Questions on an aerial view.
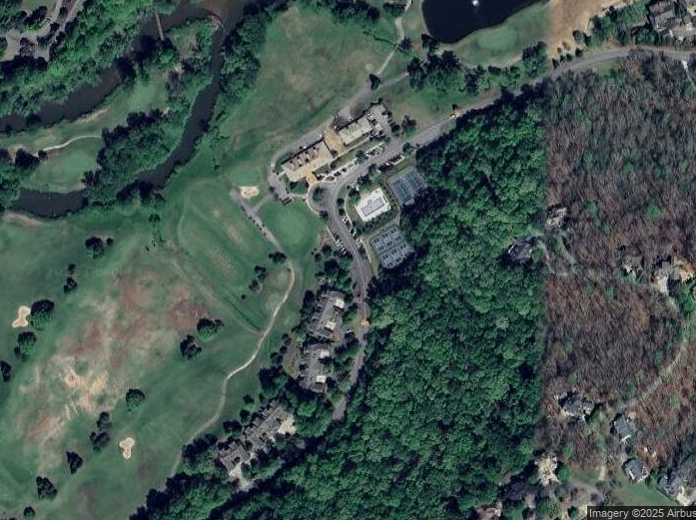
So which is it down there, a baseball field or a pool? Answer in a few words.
pool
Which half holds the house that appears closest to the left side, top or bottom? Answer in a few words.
bottom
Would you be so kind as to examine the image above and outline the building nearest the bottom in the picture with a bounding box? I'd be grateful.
[475,502,503,520]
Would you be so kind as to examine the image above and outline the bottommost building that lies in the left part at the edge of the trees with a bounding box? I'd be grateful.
[219,436,250,468]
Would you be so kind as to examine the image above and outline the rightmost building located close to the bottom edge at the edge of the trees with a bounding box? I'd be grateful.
[655,468,686,496]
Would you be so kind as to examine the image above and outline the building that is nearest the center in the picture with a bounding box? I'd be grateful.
[307,291,345,335]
